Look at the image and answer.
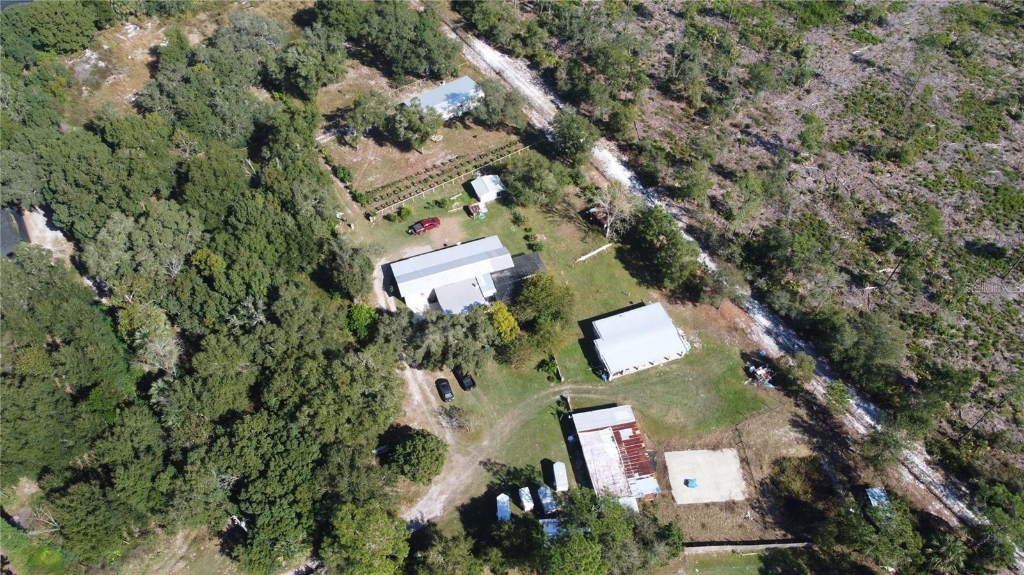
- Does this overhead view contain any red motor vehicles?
Yes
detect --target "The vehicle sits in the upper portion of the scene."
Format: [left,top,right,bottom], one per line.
[408,219,440,236]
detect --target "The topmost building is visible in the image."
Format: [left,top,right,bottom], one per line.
[403,75,487,129]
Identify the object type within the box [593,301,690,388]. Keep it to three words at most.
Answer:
house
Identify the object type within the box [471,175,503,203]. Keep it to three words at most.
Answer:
shed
